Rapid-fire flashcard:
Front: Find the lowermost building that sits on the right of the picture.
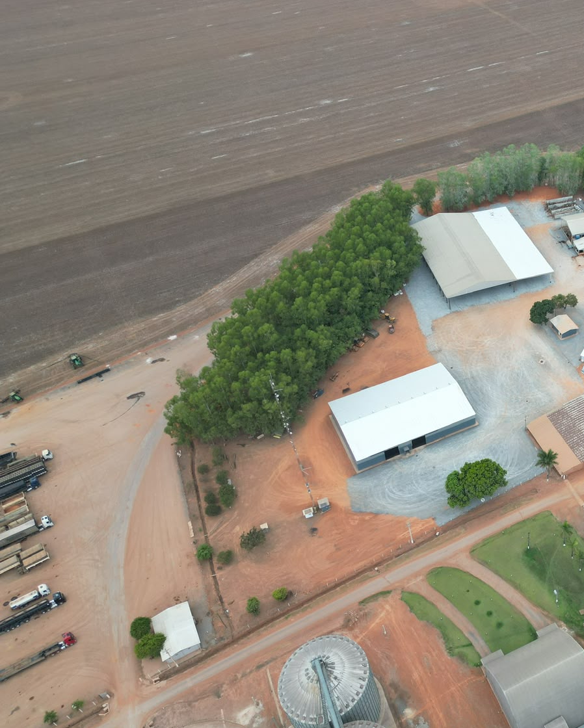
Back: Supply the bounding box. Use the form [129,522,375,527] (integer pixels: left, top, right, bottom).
[474,616,584,728]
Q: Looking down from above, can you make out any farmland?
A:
Yes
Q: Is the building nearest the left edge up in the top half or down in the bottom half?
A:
bottom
